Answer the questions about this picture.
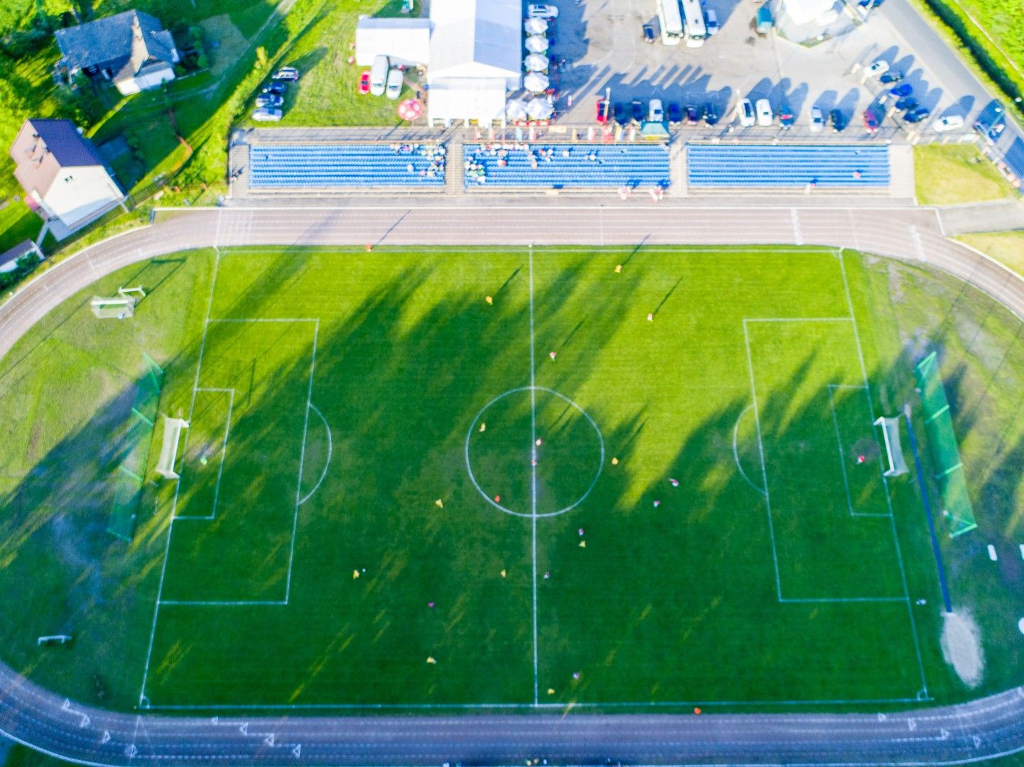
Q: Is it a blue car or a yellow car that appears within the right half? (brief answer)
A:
blue car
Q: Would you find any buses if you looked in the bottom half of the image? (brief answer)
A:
No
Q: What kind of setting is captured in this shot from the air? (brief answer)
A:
sports ground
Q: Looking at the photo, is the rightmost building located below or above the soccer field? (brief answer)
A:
above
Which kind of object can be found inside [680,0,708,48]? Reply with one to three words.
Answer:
bus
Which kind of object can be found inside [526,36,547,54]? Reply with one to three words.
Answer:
umbrella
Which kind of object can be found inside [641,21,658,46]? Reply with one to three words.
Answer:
car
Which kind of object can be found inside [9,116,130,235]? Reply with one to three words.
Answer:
house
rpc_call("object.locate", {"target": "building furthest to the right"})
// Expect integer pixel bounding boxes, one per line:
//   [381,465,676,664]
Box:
[773,0,864,49]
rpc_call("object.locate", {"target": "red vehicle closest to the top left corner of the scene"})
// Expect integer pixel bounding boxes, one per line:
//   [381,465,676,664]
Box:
[358,73,371,95]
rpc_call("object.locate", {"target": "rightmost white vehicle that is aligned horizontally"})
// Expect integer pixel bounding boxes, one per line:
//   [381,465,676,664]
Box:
[932,114,964,131]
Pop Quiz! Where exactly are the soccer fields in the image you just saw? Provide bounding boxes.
[116,244,957,712]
